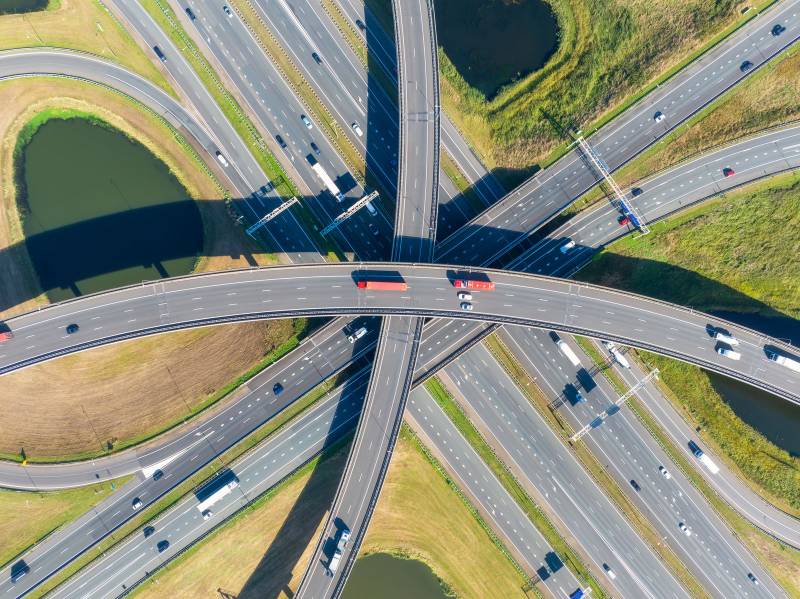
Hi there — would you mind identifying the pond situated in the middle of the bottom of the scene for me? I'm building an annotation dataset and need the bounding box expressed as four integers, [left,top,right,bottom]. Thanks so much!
[341,553,452,599]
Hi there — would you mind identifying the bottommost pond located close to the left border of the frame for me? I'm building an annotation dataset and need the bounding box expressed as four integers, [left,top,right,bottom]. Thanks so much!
[20,116,205,304]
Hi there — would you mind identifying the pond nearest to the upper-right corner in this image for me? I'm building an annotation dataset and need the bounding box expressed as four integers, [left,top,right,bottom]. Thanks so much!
[433,0,559,100]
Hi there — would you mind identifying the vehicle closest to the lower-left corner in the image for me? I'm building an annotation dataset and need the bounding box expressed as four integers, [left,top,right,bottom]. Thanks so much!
[13,565,31,579]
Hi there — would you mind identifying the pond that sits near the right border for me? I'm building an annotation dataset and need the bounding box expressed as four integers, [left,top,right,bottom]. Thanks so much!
[686,304,800,458]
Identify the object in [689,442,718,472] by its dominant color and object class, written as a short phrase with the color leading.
white truck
